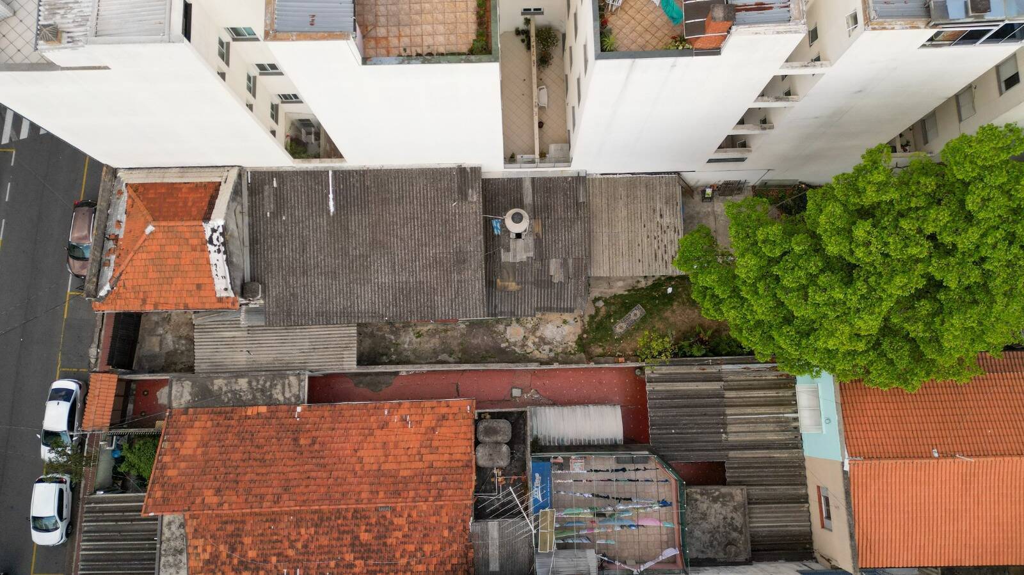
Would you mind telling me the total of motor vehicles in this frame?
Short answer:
three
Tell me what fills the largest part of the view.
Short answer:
buildings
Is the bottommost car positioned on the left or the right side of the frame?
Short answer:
left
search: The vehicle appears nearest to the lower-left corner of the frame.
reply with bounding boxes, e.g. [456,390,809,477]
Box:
[26,473,79,547]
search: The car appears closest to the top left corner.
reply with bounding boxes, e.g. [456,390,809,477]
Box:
[61,202,97,277]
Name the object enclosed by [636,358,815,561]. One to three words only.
shed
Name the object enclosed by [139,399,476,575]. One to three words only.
house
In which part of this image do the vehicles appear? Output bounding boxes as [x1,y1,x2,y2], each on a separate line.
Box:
[26,473,79,547]
[36,378,92,463]
[61,202,97,277]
